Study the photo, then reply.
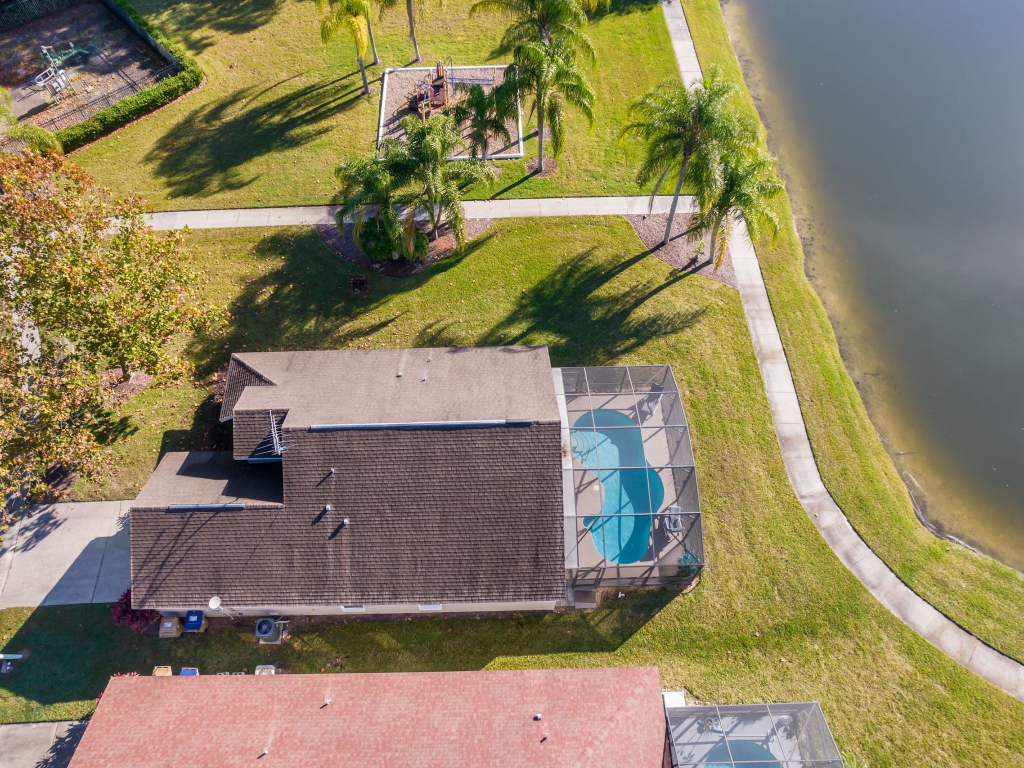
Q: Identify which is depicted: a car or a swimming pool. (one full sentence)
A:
There is a swimming pool in the scene.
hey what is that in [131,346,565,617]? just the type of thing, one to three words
house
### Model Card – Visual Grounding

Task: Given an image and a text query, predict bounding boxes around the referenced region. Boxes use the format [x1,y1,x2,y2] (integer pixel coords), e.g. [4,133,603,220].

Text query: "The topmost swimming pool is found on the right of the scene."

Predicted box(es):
[571,408,665,565]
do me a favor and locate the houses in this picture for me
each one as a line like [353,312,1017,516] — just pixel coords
[131,346,565,617]
[58,666,679,768]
